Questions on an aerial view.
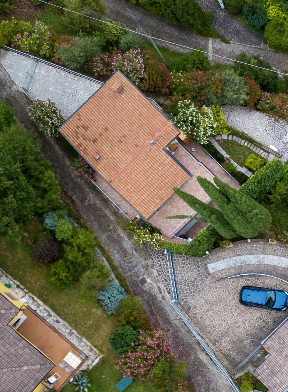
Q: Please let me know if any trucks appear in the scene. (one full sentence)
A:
No, I can't see a single truck in this photo.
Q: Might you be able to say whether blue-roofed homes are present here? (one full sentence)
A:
No, I can see no blue-roofed home in this picture.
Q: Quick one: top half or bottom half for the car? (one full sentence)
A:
The car sits in the bottom half of the picture.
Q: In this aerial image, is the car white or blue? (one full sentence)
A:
The car is blue.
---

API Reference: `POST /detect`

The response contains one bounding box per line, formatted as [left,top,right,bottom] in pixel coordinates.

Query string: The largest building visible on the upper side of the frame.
[57,69,236,239]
